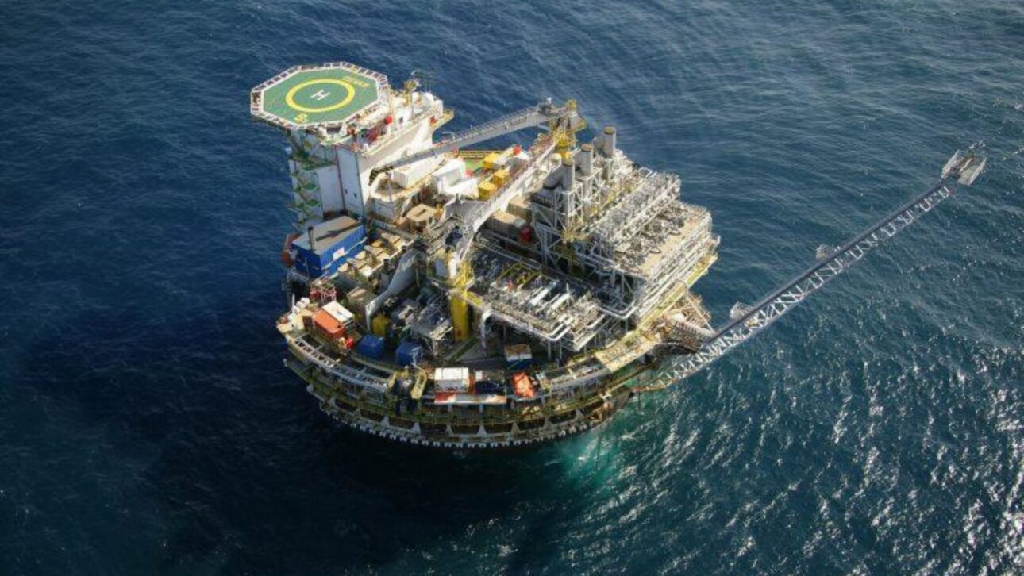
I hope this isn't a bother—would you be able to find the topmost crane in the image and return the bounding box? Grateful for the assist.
[380,93,587,217]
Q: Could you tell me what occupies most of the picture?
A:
water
